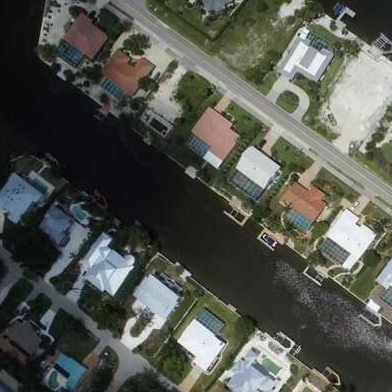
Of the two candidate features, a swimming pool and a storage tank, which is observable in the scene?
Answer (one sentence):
Of the two, only a swimming pool appears.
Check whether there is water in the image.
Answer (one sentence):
Yes, the picture does contain water.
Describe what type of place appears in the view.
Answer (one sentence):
This image shows a residential area.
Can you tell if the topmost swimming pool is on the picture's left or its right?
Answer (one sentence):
The topmost swimming pool is on the left side of the image.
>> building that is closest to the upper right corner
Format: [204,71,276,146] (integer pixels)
[278,28,335,82]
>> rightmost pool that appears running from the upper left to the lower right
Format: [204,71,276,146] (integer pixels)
[321,238,349,265]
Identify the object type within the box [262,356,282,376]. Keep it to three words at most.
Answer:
swimming pool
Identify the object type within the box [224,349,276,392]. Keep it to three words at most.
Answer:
house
